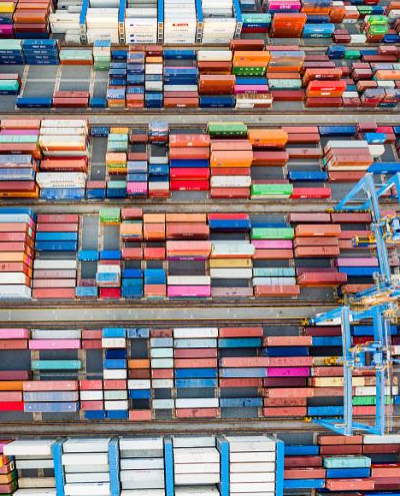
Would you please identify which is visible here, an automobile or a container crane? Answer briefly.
container crane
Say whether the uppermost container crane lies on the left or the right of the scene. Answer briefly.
right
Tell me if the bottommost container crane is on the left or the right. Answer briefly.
right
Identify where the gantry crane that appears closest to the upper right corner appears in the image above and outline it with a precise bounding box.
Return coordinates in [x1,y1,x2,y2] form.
[323,182,400,307]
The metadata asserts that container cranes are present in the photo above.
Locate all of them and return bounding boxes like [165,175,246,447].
[300,312,400,449]
[323,182,400,307]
